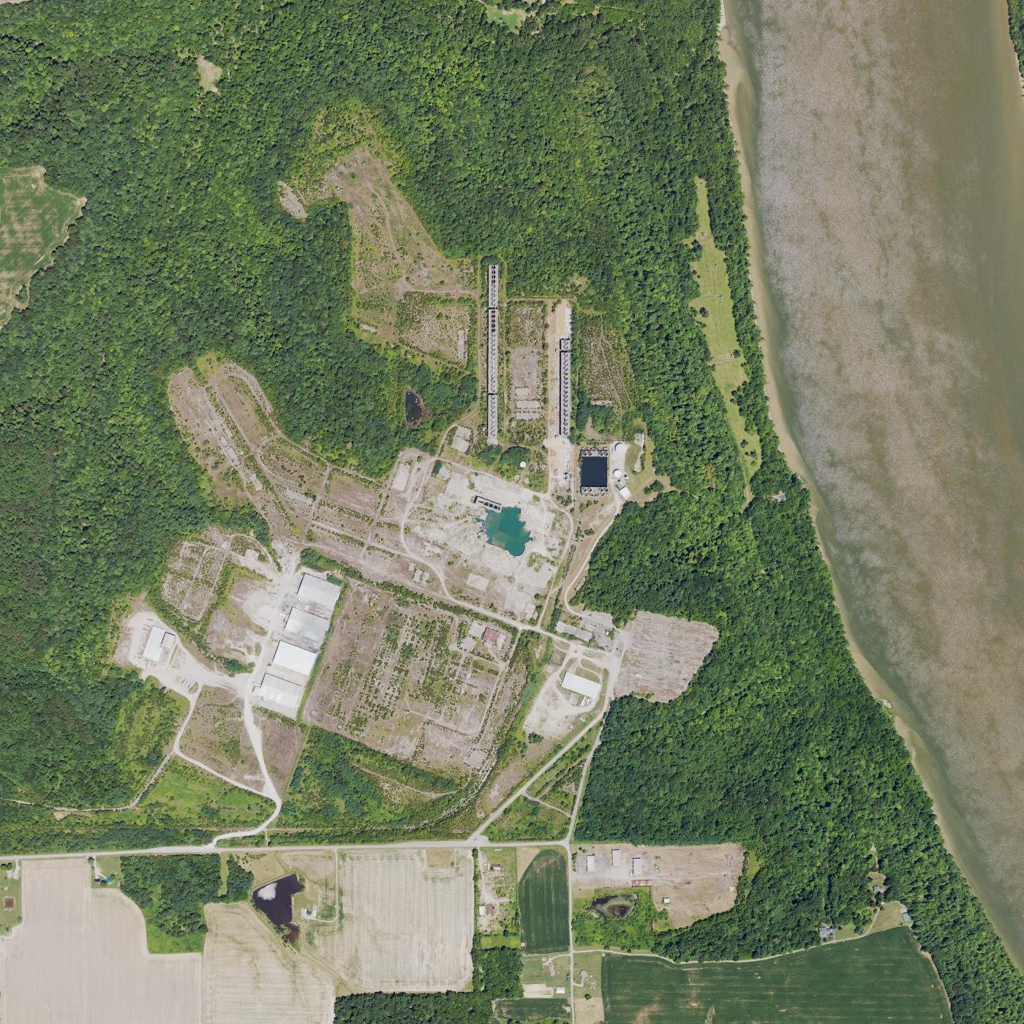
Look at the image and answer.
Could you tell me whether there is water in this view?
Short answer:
Yes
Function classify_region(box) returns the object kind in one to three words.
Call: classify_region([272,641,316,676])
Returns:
building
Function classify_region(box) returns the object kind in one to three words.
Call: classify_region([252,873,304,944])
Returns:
pond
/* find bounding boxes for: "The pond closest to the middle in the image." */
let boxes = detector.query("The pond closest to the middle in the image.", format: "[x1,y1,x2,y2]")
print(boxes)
[475,506,532,556]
